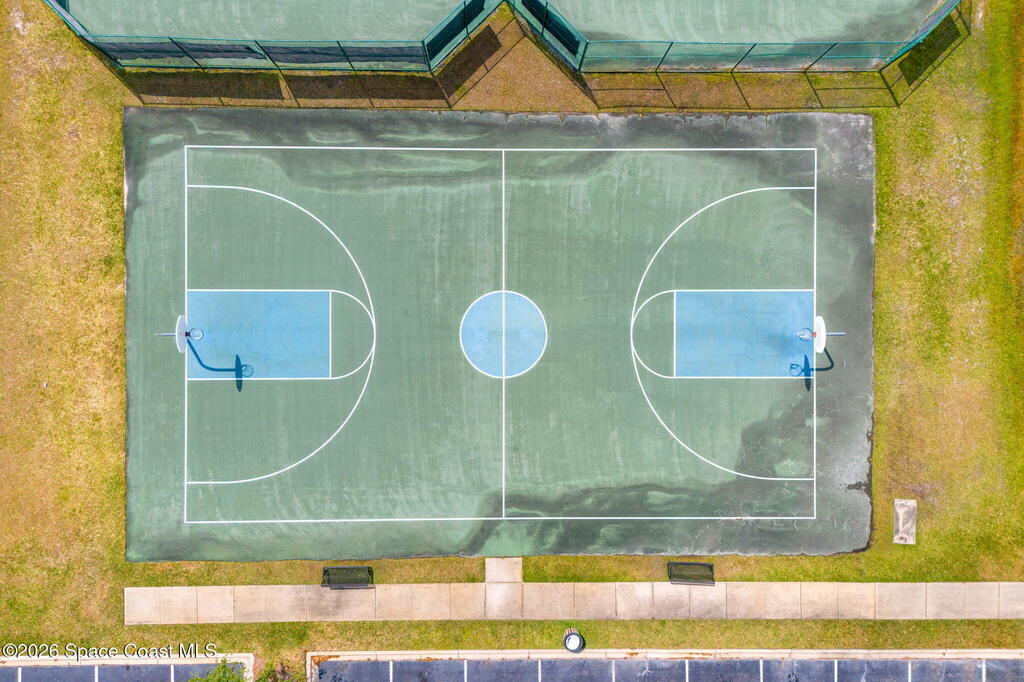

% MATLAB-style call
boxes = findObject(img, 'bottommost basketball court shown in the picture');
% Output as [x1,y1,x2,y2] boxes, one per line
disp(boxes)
[123,107,875,562]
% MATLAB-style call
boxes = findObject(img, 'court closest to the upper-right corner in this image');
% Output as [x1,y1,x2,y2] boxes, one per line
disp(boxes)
[508,0,948,72]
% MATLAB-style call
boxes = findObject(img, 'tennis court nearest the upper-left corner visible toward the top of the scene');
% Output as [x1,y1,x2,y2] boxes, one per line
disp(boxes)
[58,0,503,71]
